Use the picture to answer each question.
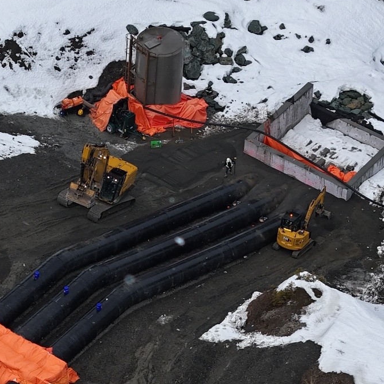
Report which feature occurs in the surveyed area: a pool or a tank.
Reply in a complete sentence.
Looking from above, you can make out a tank.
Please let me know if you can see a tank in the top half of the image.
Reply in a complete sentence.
Yes, you'll find a tank in the top half of the image.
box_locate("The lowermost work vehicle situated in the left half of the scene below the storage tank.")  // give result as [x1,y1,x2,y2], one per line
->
[58,148,149,232]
